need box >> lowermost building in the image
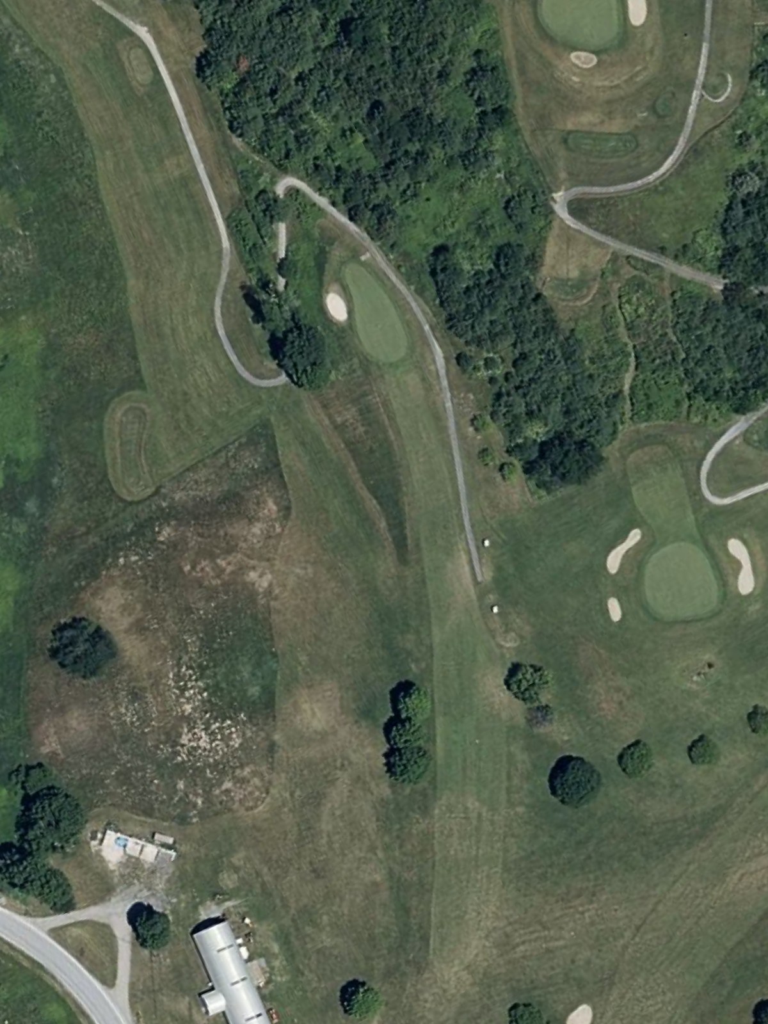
[194,922,270,1024]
